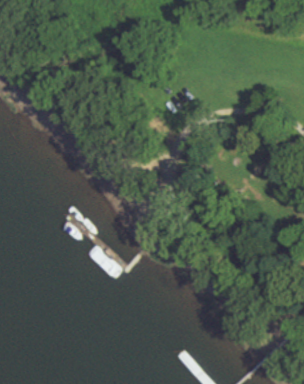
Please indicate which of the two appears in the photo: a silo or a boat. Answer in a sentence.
It is a boat that can be seen here.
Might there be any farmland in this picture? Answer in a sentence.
No, there is no farmland in the image.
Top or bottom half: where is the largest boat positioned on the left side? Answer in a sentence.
It is in the bottom half that the largest boat positioned on the left side appears.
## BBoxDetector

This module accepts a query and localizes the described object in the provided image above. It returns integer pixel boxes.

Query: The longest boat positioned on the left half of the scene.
[90,246,122,278]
